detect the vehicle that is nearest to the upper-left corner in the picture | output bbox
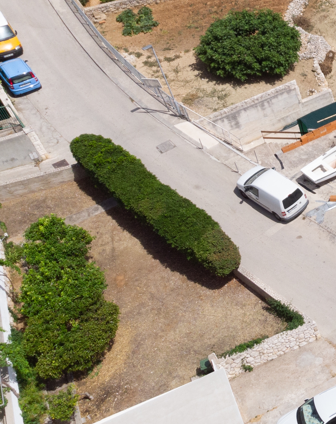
[0,0,23,52]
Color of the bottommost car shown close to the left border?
blue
